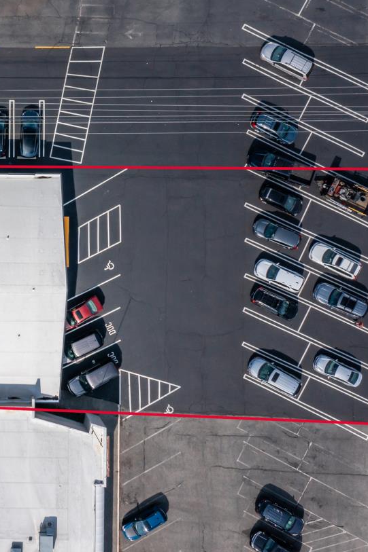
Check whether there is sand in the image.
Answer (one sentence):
No, the picture contains no sand.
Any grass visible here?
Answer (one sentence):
No, the picture contains no grass.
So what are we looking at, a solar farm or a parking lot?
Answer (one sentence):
It's a parking lot.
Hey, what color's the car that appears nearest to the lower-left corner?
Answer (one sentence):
From above, the car that appears nearest to the lower-left corner appears blue.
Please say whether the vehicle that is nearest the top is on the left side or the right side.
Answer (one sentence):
You can find the vehicle that is nearest the top on the right side of the picture.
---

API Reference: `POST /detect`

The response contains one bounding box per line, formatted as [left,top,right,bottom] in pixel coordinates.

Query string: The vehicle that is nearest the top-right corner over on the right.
[259,42,315,79]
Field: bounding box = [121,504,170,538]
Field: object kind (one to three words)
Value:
car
